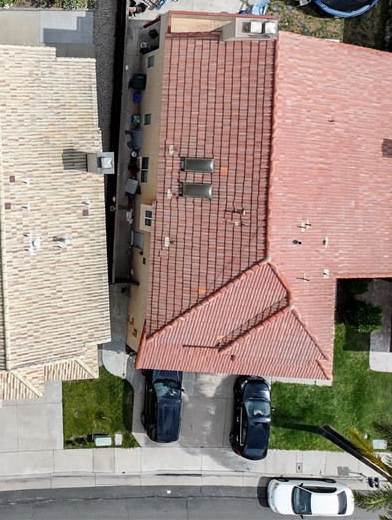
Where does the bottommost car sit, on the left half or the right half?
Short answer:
right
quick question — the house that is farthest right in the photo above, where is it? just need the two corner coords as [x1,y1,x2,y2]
[126,10,392,381]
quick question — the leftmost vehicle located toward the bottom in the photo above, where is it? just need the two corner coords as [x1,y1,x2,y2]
[145,370,189,441]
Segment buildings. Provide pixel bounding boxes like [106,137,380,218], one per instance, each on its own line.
[126,10,392,381]
[0,43,116,410]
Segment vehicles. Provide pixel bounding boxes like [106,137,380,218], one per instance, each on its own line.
[229,375,276,460]
[145,370,189,441]
[264,475,355,520]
